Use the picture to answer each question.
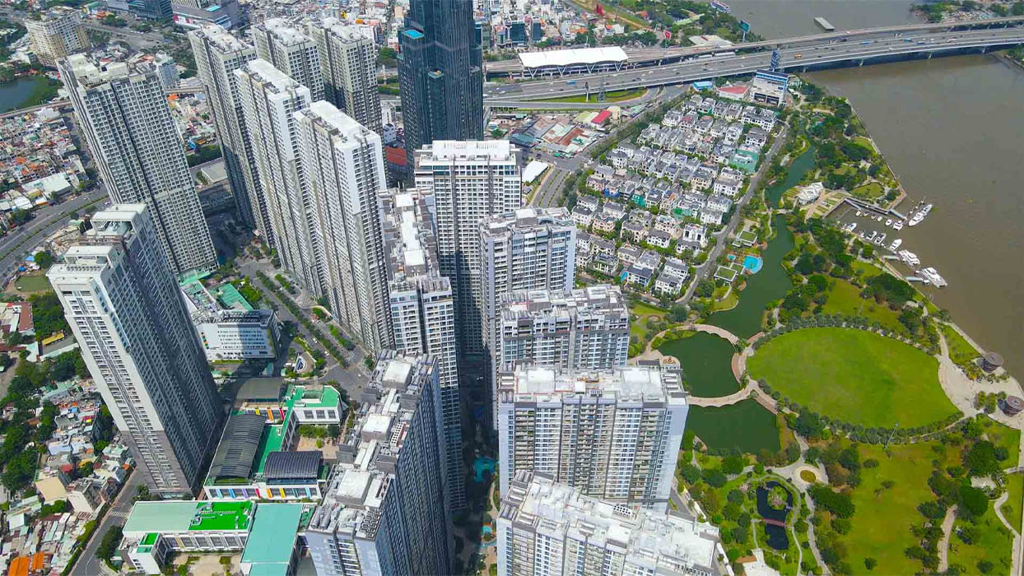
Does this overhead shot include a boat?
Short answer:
Yes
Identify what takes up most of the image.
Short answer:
buildings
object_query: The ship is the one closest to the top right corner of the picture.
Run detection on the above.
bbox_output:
[813,16,836,30]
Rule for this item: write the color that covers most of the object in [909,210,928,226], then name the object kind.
white boat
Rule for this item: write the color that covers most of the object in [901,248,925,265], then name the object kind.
white boat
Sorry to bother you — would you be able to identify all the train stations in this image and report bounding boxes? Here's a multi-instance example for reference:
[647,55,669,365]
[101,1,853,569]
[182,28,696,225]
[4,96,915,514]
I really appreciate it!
[520,52,628,77]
